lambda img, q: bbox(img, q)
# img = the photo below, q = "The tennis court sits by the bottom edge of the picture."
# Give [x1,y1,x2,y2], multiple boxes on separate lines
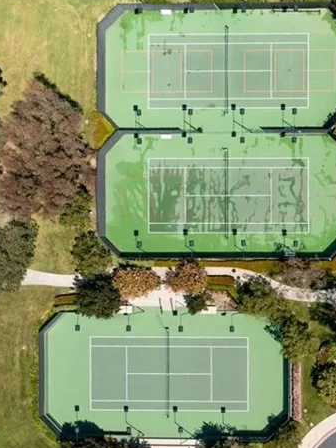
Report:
[48,311,289,438]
